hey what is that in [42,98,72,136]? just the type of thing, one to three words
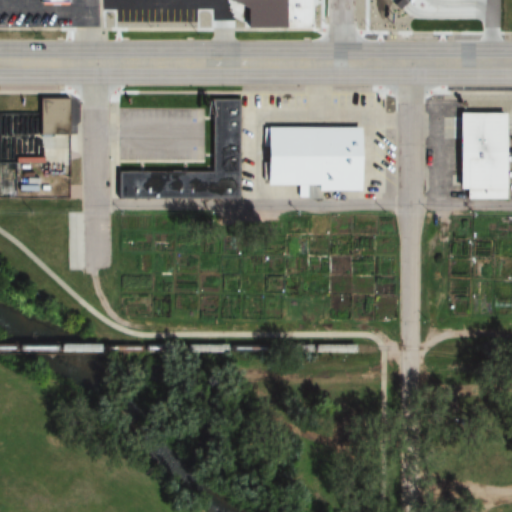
building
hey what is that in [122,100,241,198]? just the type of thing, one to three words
building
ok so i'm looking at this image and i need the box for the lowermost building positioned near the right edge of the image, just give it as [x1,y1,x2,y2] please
[462,112,509,200]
